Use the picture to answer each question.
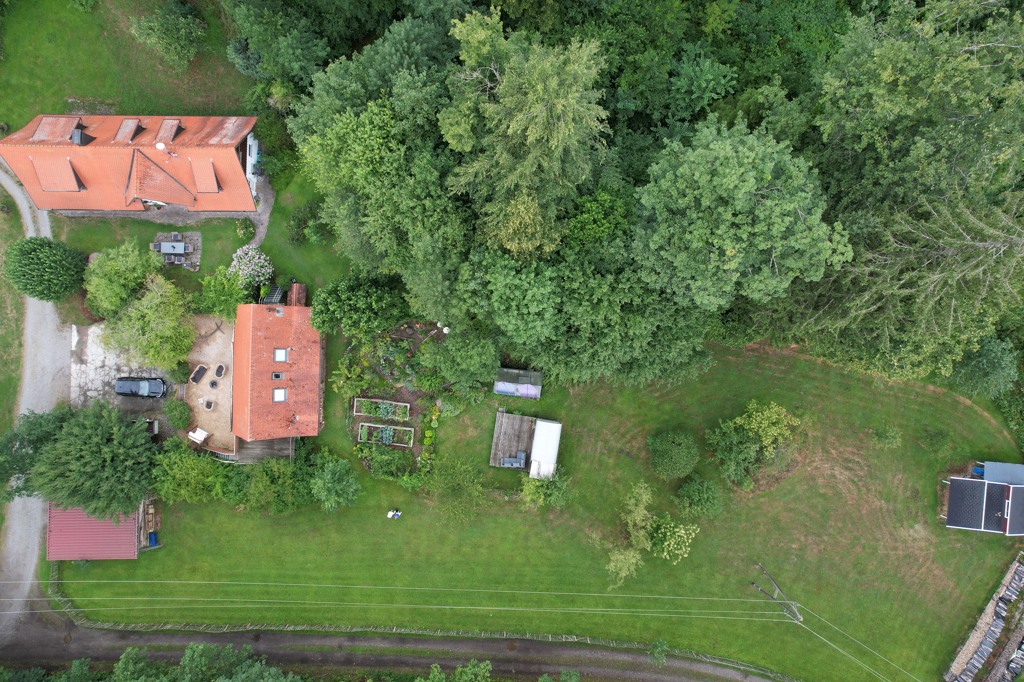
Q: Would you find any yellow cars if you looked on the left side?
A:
No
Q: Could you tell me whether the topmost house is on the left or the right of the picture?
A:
left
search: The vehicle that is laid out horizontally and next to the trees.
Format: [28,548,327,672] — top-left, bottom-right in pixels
[114,376,169,400]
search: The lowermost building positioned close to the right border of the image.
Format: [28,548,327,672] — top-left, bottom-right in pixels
[932,477,1024,536]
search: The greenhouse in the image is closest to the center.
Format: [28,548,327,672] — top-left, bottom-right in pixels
[493,367,543,398]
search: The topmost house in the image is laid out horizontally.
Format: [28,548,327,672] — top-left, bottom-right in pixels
[0,115,258,216]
